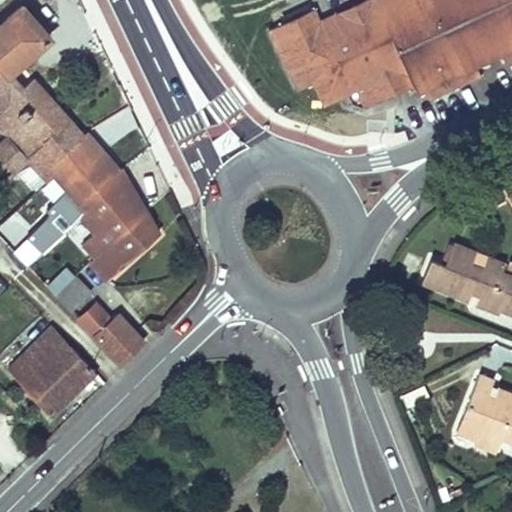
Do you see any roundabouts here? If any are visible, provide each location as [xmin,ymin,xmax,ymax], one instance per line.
[201,132,424,384]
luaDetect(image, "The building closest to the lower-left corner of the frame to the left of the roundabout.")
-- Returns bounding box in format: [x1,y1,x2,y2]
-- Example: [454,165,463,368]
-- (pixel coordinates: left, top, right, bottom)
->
[9,323,104,416]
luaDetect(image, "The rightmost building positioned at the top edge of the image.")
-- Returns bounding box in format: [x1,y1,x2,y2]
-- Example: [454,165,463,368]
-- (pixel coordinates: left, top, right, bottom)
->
[376,0,512,98]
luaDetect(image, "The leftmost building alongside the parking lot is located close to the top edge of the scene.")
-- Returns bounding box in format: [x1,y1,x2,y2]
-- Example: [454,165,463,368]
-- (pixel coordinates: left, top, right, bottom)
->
[268,0,416,108]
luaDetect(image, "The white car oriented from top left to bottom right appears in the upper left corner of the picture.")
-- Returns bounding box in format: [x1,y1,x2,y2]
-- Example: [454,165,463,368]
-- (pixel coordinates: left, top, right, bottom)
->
[38,3,58,24]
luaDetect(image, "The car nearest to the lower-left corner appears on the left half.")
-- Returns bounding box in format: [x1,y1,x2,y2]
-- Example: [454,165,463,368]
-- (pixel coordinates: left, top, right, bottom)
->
[34,460,54,478]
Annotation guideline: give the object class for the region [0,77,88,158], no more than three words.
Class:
house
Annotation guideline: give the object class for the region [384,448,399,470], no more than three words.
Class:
car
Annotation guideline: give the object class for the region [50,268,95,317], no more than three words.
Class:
building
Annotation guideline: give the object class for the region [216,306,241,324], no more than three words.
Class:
vehicle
